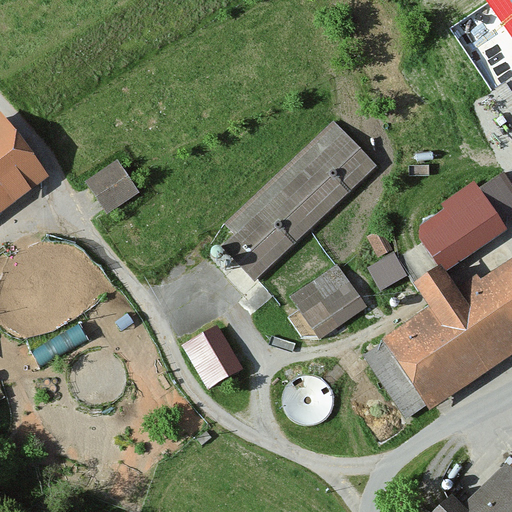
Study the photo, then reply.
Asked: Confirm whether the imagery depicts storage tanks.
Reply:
Yes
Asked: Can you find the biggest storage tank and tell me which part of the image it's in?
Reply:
bottom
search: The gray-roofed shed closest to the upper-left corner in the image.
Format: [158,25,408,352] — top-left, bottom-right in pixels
[86,160,138,213]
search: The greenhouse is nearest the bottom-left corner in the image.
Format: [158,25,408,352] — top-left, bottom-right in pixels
[30,322,90,368]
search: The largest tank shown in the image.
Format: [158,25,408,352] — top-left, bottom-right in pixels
[282,374,334,426]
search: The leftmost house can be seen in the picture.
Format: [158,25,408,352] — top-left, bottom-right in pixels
[0,110,48,212]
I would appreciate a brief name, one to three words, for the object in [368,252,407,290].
shed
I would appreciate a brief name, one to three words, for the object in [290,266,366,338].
barn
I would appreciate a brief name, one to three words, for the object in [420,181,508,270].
barn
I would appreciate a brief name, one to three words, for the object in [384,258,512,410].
house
